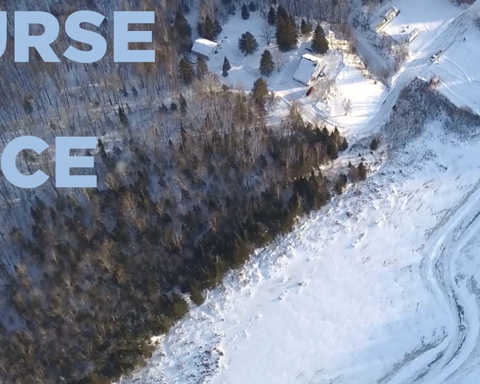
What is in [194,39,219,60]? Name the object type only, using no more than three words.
building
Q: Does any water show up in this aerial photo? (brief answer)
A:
Yes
